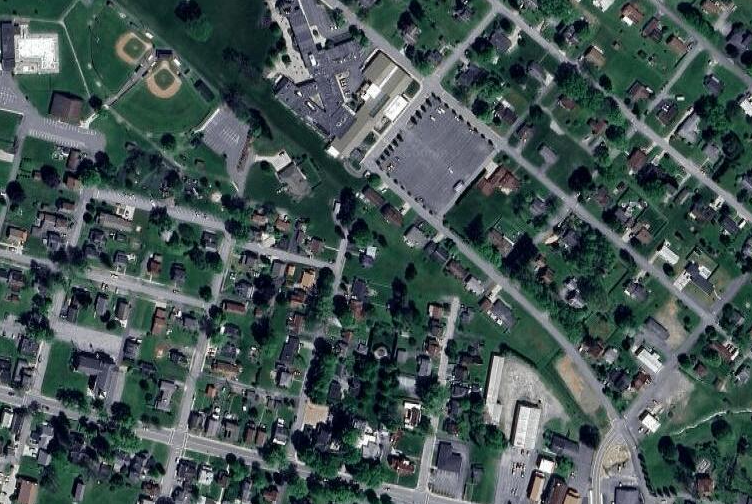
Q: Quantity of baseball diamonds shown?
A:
2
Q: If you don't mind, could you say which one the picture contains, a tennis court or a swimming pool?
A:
swimming pool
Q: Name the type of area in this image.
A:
residential area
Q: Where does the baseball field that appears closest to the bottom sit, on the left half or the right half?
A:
left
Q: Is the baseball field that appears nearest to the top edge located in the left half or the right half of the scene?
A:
left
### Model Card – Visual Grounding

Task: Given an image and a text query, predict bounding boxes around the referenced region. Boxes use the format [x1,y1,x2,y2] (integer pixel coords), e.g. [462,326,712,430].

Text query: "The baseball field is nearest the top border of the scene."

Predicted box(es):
[90,17,153,91]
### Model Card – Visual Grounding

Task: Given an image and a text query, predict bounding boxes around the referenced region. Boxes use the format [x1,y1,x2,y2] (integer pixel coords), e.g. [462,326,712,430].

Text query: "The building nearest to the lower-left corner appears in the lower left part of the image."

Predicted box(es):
[17,480,38,504]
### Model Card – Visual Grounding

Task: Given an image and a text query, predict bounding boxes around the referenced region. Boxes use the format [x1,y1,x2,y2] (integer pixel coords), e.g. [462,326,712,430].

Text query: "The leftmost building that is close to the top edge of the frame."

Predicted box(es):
[0,21,16,70]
